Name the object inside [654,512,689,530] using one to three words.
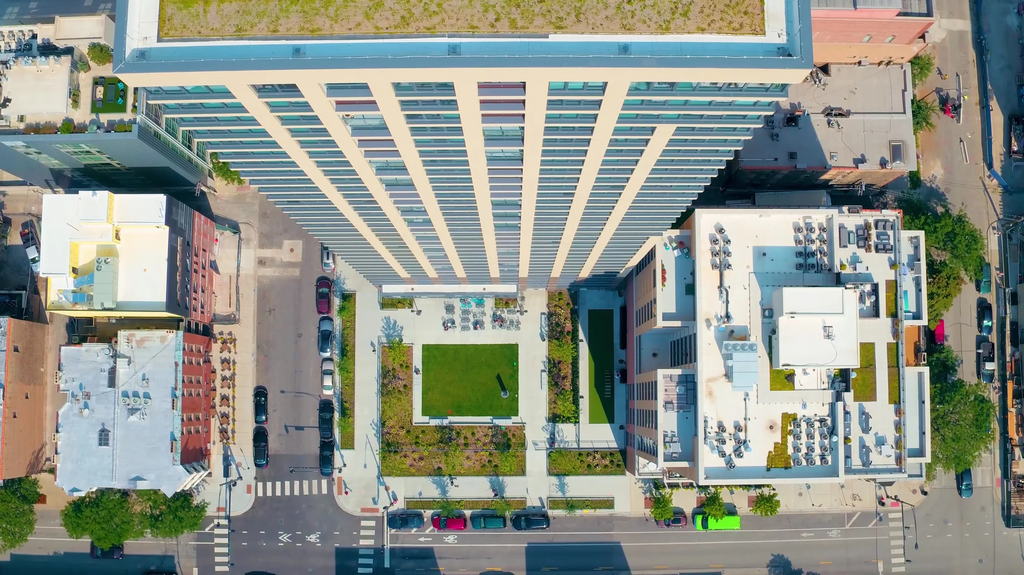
car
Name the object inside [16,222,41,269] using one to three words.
truck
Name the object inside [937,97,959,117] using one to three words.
work vehicle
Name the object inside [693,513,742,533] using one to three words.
vehicle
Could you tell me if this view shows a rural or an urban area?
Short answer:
urban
